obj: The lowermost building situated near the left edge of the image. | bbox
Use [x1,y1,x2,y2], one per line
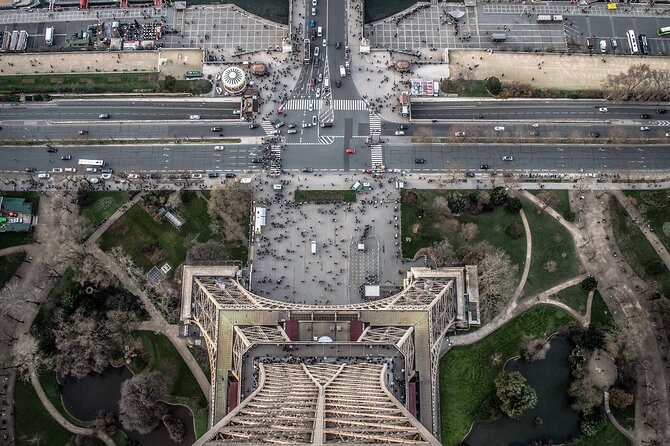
[0,198,38,234]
